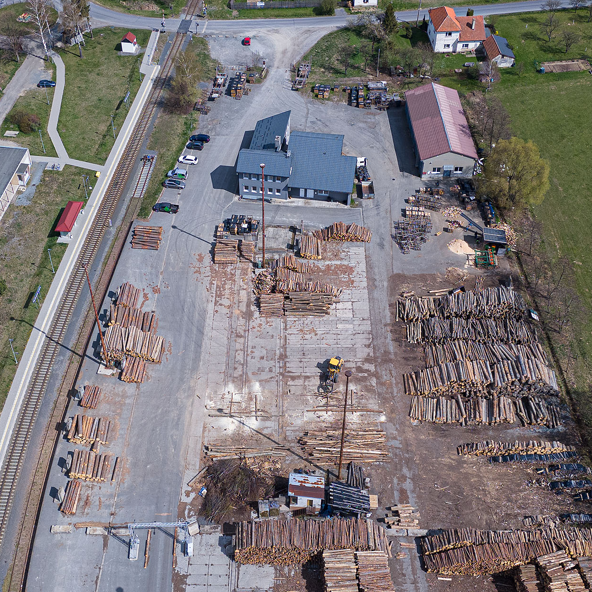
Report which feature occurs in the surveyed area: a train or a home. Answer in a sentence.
There is a home in the scene.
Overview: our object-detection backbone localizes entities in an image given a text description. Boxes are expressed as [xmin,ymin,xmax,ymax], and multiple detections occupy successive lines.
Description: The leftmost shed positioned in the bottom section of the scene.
[286,472,324,517]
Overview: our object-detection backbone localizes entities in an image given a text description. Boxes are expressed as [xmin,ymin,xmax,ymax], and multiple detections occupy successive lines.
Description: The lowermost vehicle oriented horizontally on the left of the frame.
[152,201,179,214]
